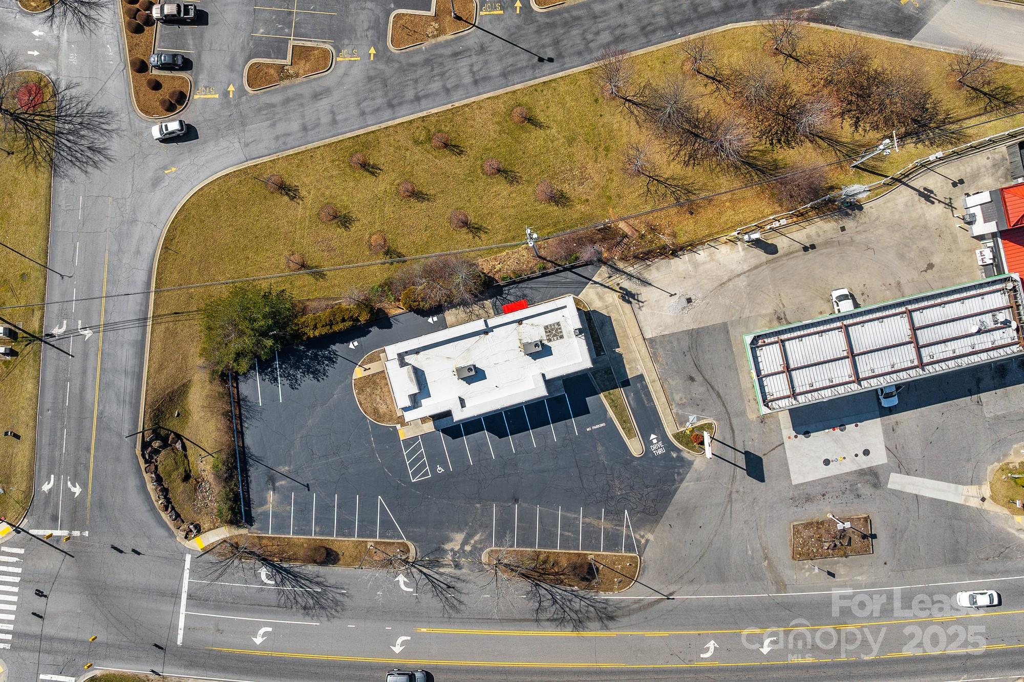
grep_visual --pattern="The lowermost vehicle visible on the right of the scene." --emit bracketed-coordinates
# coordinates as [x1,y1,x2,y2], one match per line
[954,587,997,609]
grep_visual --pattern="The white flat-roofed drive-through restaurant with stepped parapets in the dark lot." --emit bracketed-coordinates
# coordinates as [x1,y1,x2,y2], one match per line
[384,295,592,422]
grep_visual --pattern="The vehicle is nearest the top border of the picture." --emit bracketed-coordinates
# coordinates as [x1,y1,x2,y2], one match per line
[152,0,199,23]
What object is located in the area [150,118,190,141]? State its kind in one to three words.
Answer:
car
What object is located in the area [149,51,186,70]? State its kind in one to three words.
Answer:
car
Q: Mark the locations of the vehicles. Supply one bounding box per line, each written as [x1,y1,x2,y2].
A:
[829,285,853,312]
[385,668,427,682]
[150,118,190,141]
[149,51,186,70]
[877,384,903,410]
[152,0,199,23]
[954,587,997,609]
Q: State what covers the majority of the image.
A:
paved ground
